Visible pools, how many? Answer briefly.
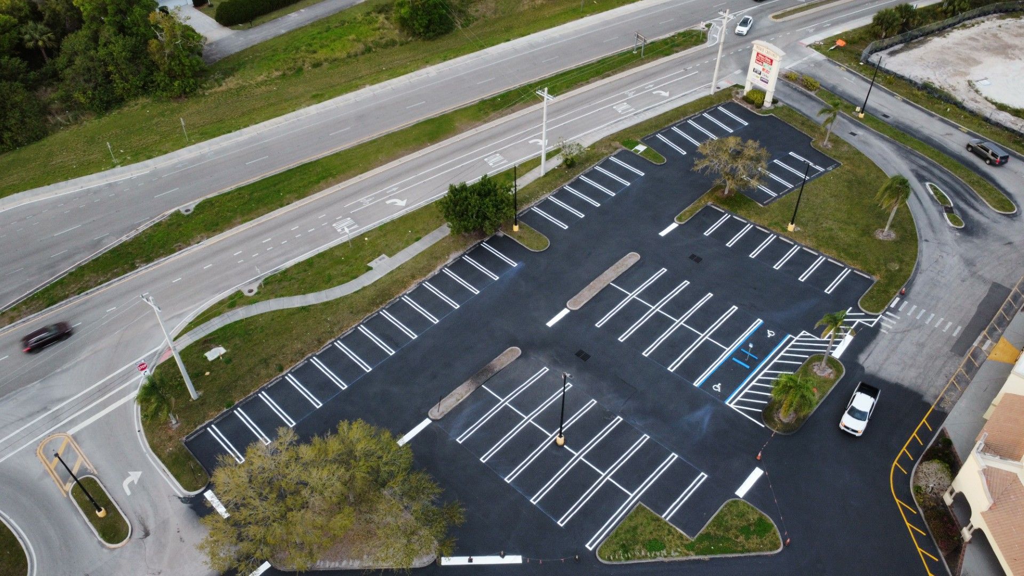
0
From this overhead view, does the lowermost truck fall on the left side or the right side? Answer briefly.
right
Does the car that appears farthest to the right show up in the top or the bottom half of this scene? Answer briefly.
top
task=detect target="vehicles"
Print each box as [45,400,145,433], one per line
[736,15,754,34]
[965,137,1012,165]
[840,381,885,440]
[17,319,73,353]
